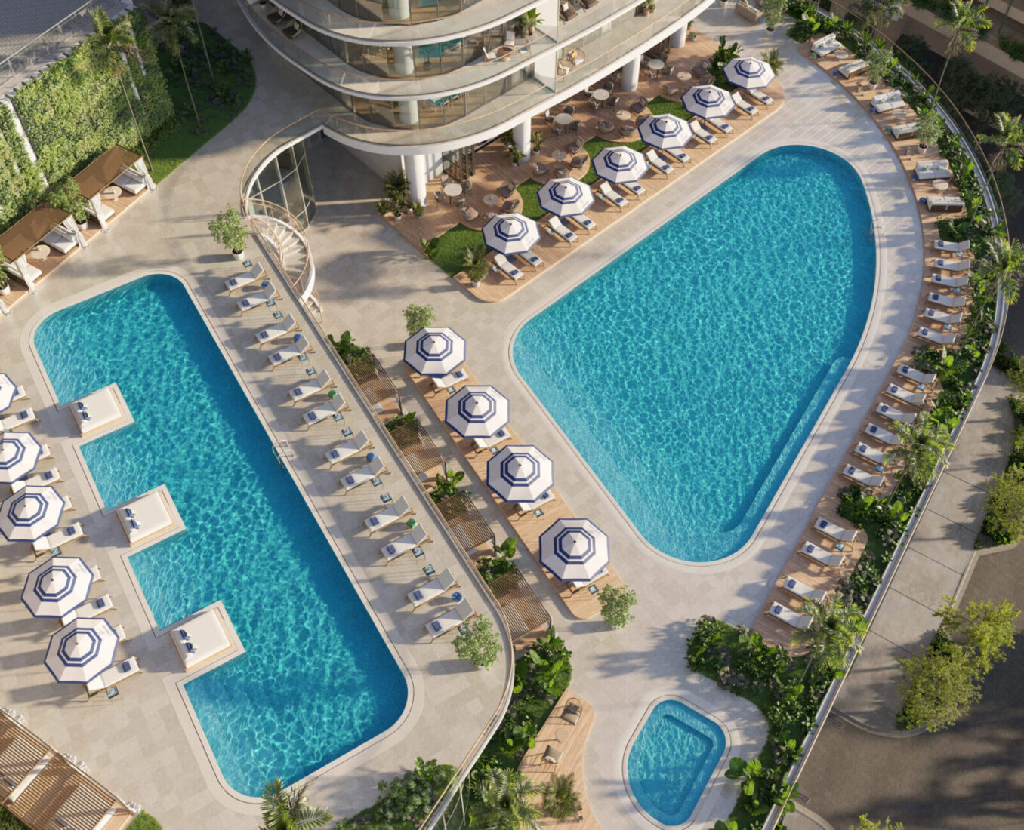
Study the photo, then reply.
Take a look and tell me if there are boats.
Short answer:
No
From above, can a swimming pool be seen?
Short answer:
Yes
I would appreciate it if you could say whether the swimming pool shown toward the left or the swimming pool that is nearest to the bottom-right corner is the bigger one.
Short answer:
the swimming pool shown toward the left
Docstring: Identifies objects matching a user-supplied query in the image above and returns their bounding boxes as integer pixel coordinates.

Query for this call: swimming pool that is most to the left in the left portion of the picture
[35,275,408,797]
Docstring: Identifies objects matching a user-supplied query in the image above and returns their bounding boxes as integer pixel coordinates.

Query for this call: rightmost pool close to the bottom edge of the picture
[628,701,726,826]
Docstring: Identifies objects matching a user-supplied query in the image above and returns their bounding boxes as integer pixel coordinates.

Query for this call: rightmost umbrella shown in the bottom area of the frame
[540,518,609,580]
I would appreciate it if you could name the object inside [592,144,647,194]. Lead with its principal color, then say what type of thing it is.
white umbrella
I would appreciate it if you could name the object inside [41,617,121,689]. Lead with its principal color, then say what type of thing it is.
white umbrella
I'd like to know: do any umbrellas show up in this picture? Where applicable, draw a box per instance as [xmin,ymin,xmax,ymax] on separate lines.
[592,144,647,194]
[19,555,97,625]
[536,175,594,229]
[41,617,121,689]
[723,54,776,98]
[405,325,466,382]
[636,111,691,162]
[444,384,507,441]
[681,82,735,131]
[0,430,46,492]
[540,518,609,580]
[488,444,553,503]
[482,211,539,267]
[0,482,69,545]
